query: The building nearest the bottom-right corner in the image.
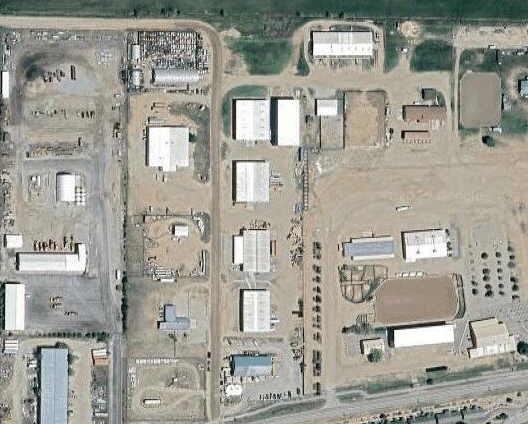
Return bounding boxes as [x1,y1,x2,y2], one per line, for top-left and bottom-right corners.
[471,318,518,360]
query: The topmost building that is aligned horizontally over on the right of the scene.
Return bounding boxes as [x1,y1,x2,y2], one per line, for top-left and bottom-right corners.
[313,31,373,57]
